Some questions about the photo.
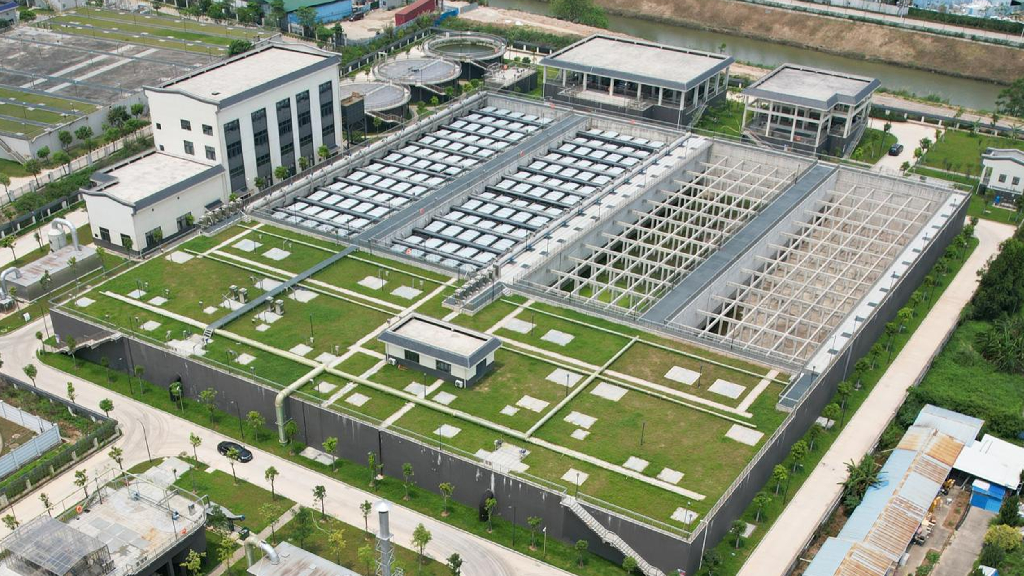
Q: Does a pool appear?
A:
No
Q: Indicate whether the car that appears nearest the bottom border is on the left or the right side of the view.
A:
left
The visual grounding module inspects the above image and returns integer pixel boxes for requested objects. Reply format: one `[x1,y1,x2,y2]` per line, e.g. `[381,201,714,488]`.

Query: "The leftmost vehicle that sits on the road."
[215,439,253,460]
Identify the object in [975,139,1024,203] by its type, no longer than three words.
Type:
house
